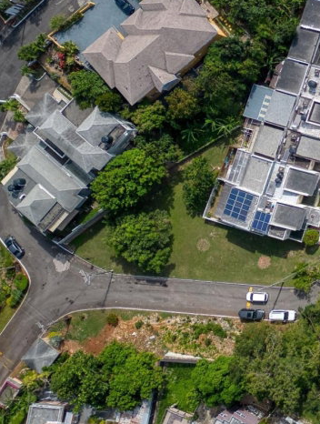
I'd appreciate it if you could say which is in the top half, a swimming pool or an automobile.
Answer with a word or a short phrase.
automobile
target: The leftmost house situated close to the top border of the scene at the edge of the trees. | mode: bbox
[82,0,226,105]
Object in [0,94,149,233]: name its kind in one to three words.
house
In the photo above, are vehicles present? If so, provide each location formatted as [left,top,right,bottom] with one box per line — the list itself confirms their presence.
[238,309,266,321]
[2,235,28,261]
[268,310,297,322]
[114,0,138,18]
[246,292,269,303]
